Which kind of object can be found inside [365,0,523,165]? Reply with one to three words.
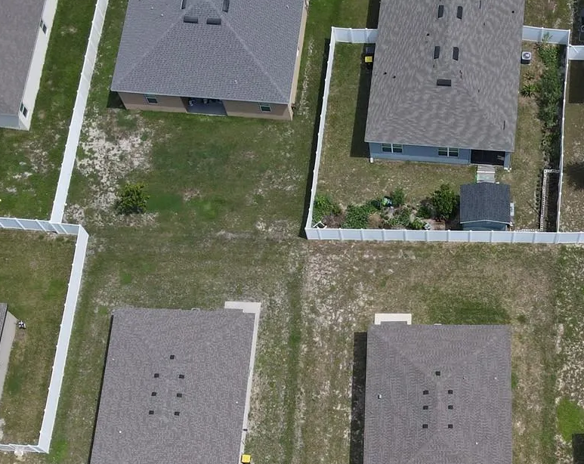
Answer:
house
